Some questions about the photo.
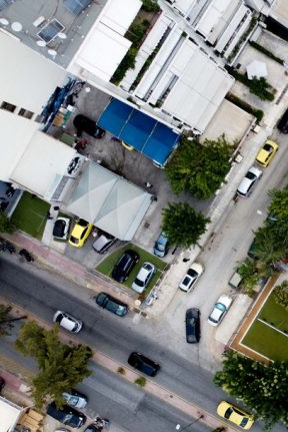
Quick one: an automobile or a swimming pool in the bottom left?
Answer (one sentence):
Visible in the bottom left is an automobile.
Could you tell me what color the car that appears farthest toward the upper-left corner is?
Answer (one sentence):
The color of the car that appears farthest toward the upper-left corner is black.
